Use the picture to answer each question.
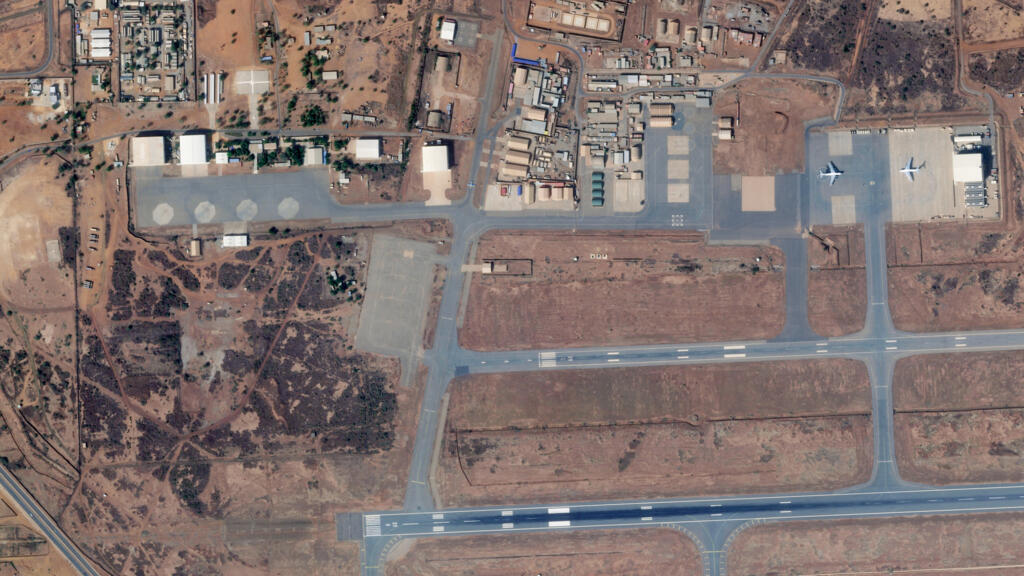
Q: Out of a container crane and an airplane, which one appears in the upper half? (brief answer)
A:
airplane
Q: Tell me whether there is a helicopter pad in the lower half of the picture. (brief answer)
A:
No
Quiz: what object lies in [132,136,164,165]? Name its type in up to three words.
hangar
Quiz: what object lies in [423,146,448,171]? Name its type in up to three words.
hangar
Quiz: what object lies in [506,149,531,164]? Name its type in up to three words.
building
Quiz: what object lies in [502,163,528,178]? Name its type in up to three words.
building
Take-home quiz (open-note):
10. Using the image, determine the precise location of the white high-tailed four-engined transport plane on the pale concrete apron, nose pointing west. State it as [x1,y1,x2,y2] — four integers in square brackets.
[899,158,922,182]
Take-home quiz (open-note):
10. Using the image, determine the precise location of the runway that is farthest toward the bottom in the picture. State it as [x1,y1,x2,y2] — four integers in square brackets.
[362,483,1024,538]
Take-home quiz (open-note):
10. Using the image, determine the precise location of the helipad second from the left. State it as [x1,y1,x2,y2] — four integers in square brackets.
[195,201,215,222]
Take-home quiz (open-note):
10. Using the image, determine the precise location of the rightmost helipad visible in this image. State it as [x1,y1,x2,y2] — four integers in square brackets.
[278,198,299,218]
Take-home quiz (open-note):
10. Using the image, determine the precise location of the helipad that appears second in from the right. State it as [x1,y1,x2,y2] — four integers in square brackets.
[236,199,257,220]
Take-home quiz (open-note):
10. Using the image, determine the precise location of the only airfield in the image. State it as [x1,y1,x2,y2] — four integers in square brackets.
[135,102,1024,576]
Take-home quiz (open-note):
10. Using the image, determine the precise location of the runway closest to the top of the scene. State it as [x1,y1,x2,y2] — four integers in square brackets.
[444,330,1024,378]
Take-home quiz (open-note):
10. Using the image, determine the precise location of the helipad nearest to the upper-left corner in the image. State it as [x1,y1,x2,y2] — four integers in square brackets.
[153,203,174,224]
